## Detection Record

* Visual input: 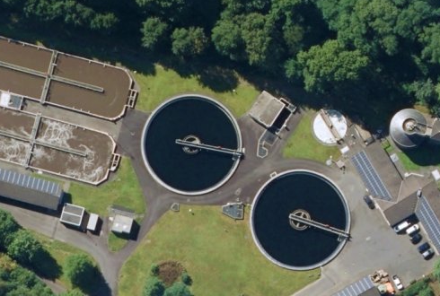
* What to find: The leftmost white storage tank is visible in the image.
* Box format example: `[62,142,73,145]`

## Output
[312,108,347,146]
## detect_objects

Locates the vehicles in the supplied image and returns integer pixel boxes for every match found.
[363,195,376,209]
[392,275,404,291]
[421,248,436,259]
[393,220,411,233]
[409,233,424,244]
[405,224,420,236]
[417,241,432,252]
